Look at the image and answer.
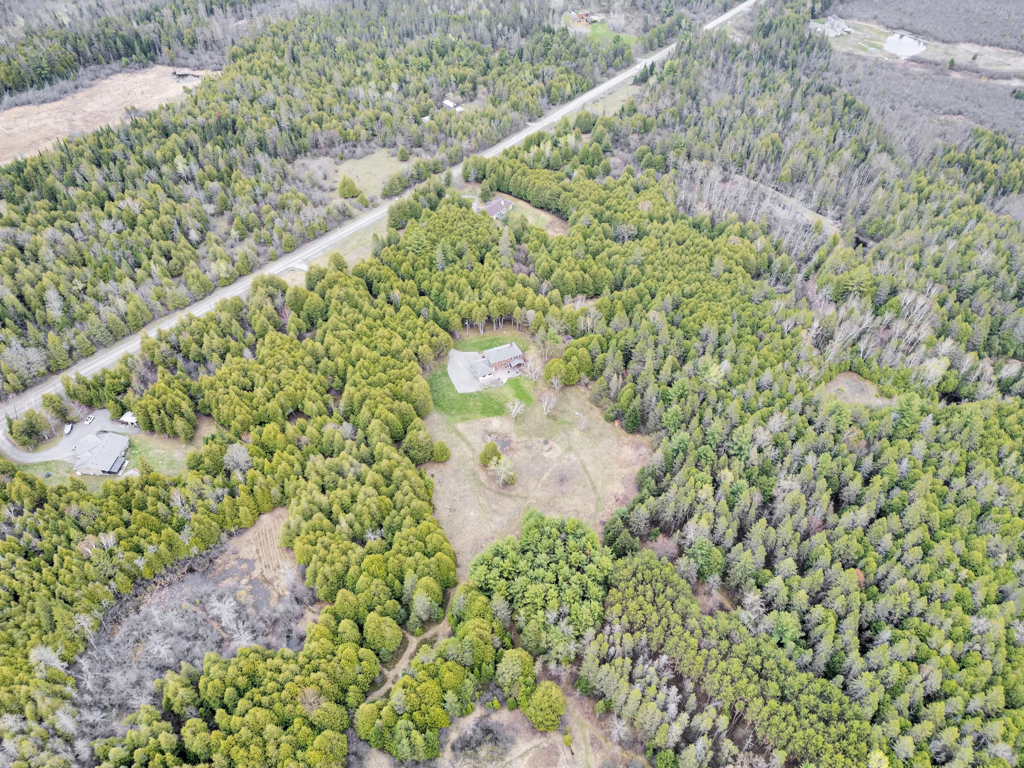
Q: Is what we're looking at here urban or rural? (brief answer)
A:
rural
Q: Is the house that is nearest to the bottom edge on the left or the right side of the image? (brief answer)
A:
left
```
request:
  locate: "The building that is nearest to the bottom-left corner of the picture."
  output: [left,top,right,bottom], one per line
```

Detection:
[69,434,130,476]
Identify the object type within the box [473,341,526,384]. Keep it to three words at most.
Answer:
house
